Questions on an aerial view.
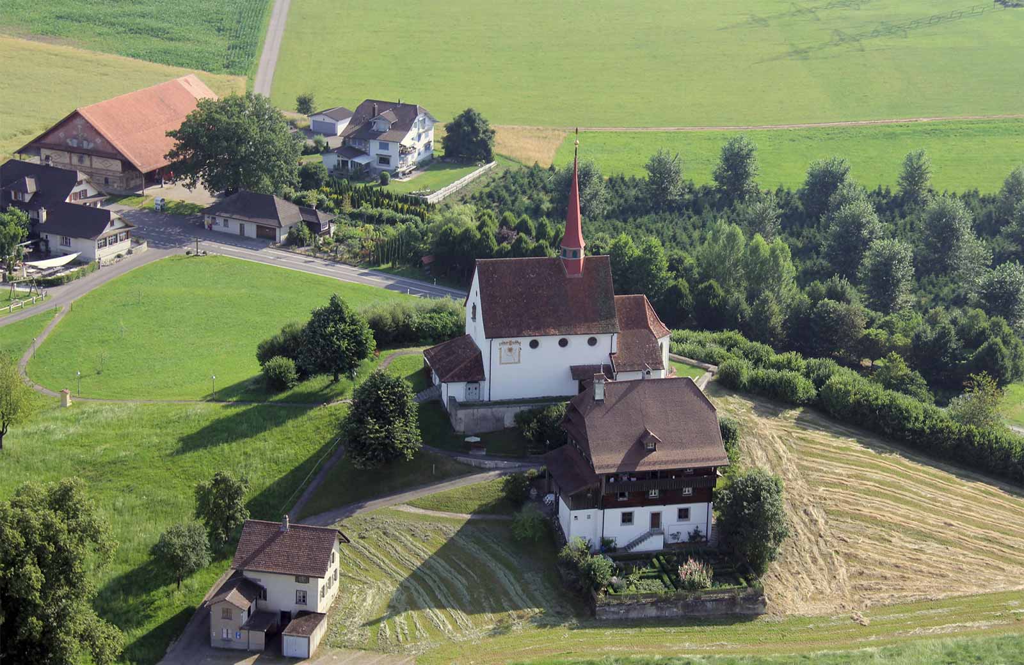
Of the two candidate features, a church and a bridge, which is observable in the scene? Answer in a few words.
church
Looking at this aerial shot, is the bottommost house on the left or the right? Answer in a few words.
left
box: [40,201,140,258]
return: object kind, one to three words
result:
house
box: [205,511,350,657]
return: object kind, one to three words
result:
house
